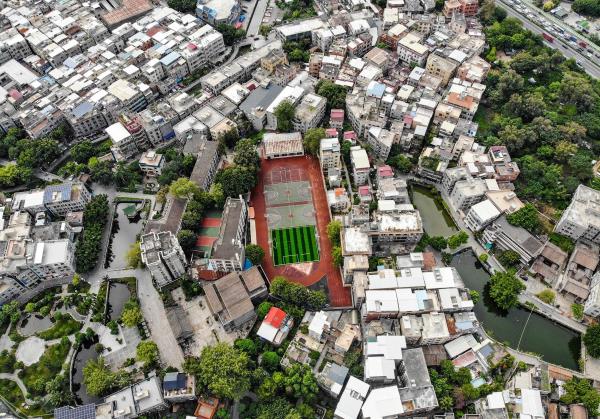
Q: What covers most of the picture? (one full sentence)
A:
Most of the picture is covered by buildings.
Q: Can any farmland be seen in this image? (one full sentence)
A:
No, farmland can't be seen anywhere here.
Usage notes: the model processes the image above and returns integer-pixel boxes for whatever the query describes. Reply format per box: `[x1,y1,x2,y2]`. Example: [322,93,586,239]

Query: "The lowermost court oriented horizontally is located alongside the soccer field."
[267,205,315,229]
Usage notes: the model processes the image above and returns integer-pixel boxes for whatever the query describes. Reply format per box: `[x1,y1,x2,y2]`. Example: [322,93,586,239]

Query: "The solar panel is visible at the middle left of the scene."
[43,183,74,203]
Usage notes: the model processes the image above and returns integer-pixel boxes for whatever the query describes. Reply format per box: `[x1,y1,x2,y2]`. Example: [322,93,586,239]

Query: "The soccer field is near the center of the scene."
[272,226,319,265]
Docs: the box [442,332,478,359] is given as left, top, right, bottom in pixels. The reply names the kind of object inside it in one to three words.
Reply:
shed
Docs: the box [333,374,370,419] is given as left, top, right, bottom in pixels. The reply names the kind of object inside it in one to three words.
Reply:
building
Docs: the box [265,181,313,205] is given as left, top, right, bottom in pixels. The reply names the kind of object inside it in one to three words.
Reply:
basketball court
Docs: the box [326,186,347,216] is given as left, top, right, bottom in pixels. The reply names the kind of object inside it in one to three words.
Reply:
house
